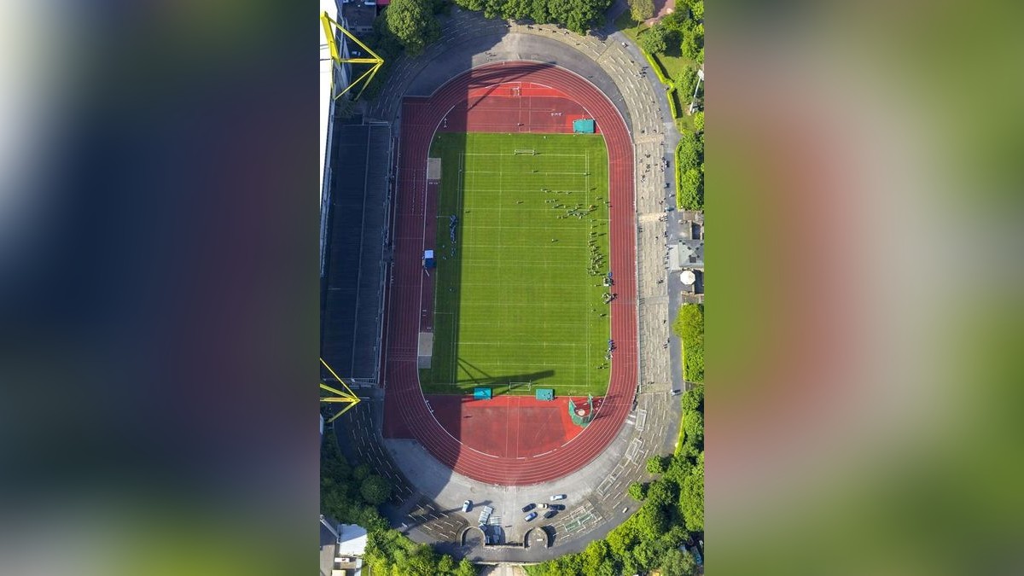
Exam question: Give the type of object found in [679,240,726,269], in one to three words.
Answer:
building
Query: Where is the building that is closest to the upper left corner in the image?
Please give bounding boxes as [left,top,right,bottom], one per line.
[341,0,379,37]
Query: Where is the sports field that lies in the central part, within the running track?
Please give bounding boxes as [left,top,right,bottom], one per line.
[419,132,610,396]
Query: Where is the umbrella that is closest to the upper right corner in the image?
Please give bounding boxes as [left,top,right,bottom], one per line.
[680,271,694,284]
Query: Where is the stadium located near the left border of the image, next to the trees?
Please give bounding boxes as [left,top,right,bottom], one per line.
[0,0,384,574]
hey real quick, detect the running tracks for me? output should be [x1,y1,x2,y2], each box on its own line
[380,59,638,486]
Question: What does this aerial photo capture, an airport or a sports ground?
sports ground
